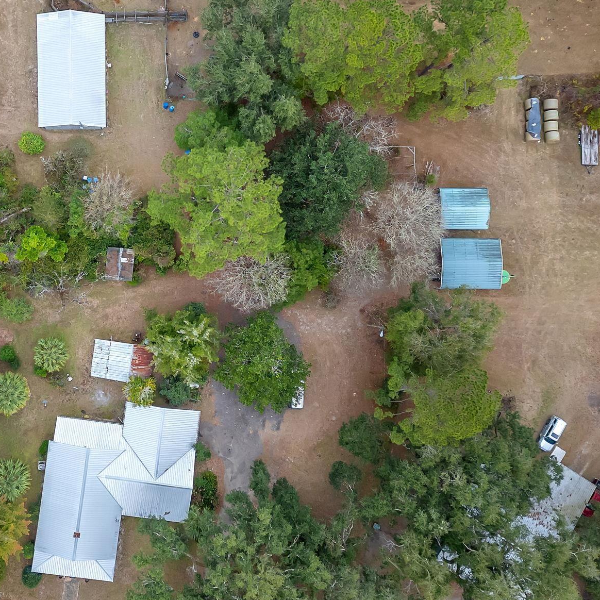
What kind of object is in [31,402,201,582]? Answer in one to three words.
house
